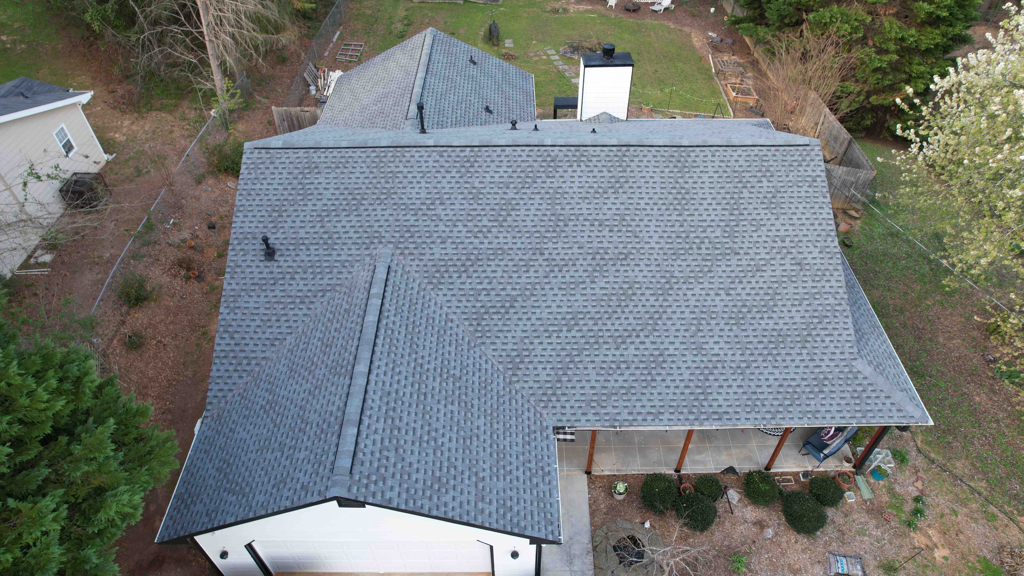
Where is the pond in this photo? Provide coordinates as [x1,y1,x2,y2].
[593,515,667,576]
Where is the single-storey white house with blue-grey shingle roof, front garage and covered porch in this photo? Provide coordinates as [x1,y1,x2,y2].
[154,27,932,576]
